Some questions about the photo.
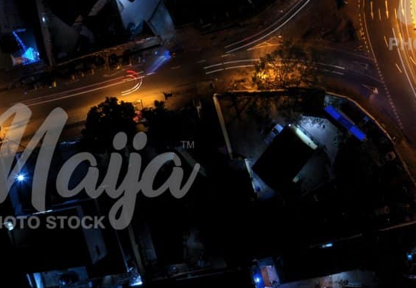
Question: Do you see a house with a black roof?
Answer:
Yes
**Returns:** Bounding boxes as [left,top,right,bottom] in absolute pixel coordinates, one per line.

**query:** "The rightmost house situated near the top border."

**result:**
[74,0,127,50]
